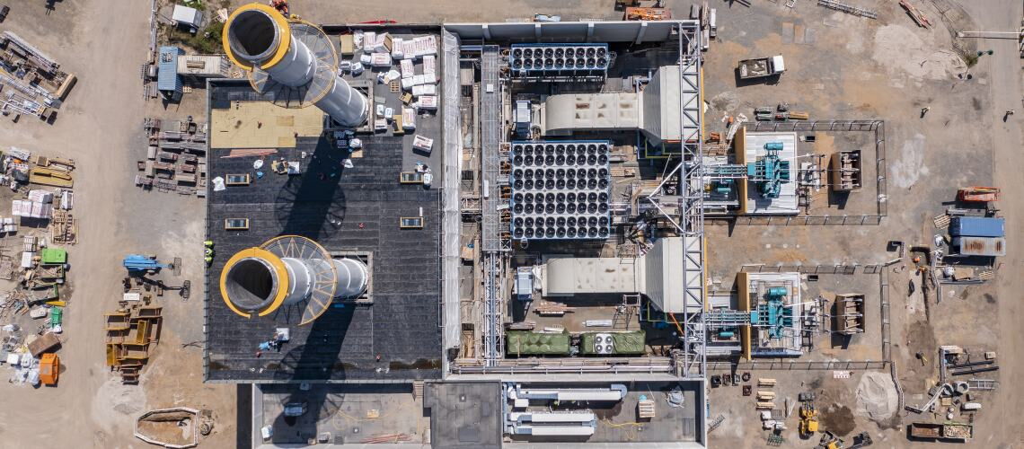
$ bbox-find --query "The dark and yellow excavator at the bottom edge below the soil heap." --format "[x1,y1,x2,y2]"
[815,425,846,449]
